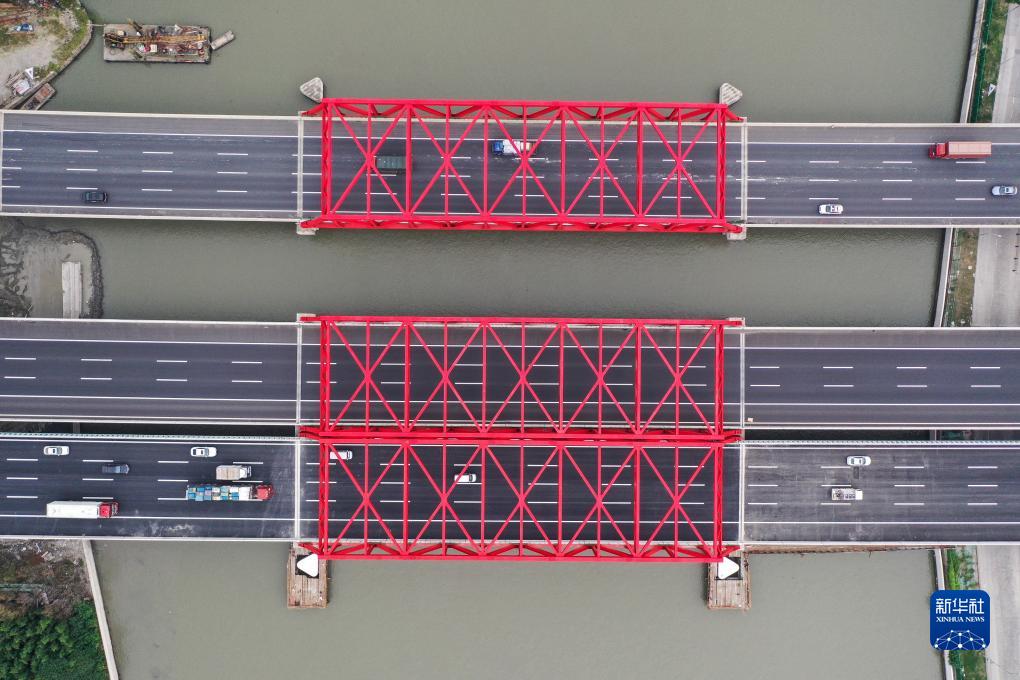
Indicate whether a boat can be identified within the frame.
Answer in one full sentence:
Yes, I can see a boat in this picture.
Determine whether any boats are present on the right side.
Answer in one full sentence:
No, I see no boat on the right side.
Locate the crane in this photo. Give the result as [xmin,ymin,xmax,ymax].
[104,29,206,52]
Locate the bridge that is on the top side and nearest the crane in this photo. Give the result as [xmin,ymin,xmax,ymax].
[0,99,1020,241]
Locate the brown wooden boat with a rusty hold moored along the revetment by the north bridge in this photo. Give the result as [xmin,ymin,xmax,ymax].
[19,80,60,111]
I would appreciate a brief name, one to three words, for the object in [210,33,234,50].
boat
